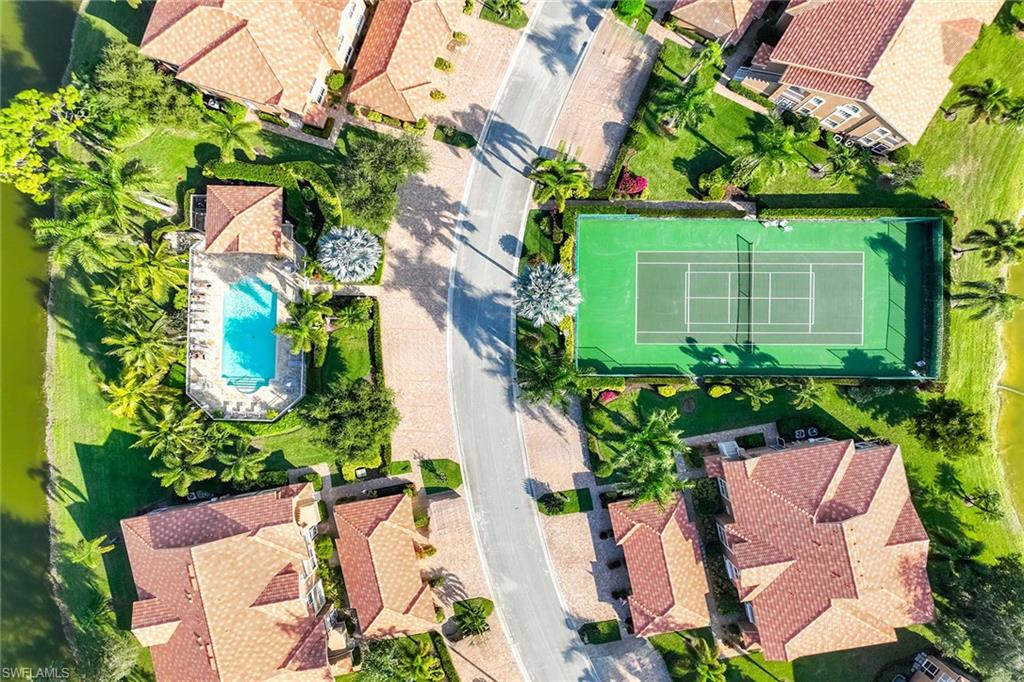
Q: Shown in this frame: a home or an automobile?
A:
home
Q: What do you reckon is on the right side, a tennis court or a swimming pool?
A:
tennis court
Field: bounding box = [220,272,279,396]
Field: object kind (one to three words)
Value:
swimming pool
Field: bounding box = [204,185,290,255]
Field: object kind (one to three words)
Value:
building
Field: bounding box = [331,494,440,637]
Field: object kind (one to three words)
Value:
building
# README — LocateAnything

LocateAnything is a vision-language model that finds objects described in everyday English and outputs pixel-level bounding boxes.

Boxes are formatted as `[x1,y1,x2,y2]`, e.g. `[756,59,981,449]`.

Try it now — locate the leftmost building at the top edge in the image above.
[139,0,369,126]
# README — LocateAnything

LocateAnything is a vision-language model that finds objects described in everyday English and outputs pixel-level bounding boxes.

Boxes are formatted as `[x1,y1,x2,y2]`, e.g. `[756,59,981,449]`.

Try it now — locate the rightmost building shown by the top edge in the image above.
[735,0,1005,157]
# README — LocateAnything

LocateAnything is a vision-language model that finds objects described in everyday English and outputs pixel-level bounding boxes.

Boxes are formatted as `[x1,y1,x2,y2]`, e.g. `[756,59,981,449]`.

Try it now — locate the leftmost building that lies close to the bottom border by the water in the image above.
[119,477,358,682]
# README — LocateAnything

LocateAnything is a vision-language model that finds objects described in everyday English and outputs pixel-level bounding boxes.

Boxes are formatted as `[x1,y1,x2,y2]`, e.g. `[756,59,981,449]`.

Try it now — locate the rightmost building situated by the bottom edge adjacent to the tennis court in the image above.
[702,433,937,663]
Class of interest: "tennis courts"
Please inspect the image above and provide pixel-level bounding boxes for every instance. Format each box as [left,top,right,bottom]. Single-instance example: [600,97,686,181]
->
[574,220,923,378]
